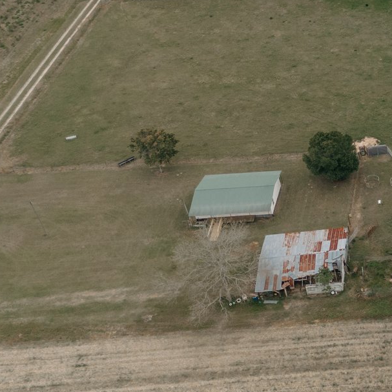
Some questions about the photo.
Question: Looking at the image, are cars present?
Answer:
No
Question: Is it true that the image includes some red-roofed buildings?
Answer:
No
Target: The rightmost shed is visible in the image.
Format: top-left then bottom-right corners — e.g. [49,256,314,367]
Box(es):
[256,227,352,307]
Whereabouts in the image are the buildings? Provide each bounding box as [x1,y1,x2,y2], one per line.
[186,172,285,249]
[256,227,352,307]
